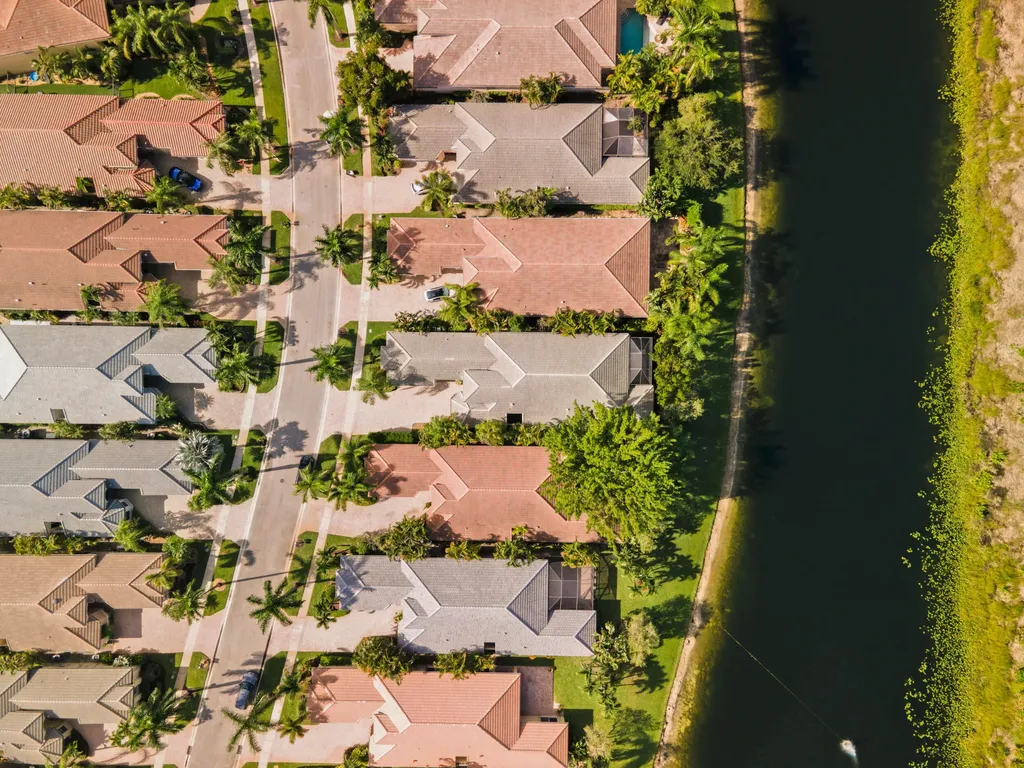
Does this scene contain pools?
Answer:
Yes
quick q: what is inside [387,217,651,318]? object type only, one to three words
house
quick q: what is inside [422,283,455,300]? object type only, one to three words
car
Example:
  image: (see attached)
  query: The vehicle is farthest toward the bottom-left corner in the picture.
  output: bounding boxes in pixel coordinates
[232,672,257,712]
